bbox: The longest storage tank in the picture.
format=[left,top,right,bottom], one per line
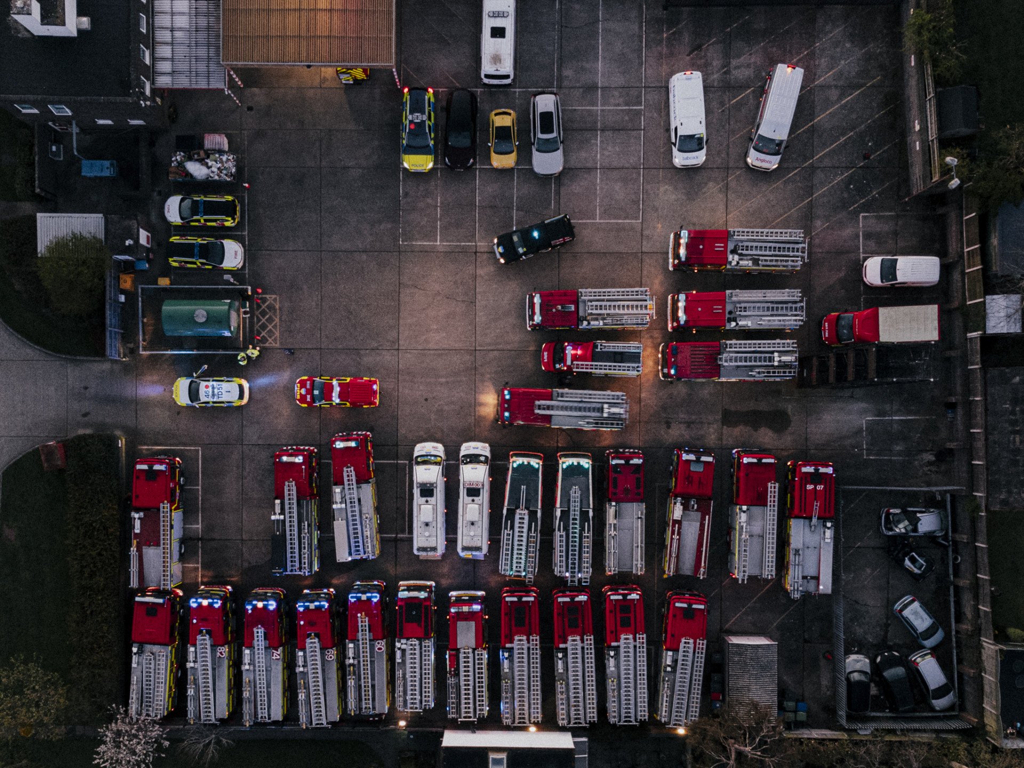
[155,301,240,336]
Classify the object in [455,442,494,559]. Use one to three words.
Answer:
van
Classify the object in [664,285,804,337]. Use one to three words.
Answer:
truck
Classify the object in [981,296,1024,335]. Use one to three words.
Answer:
shed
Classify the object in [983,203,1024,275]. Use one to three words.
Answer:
shed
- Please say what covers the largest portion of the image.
paved ground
